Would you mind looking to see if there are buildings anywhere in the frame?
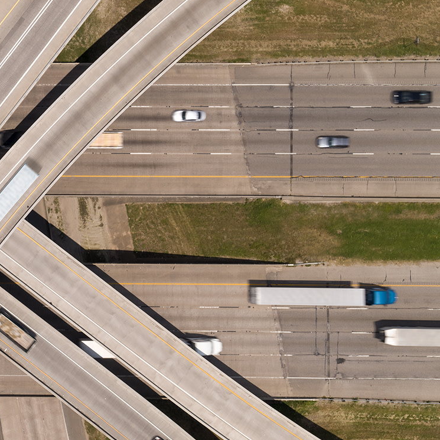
No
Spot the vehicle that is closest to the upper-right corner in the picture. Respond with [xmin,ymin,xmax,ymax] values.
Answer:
[392,90,431,104]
